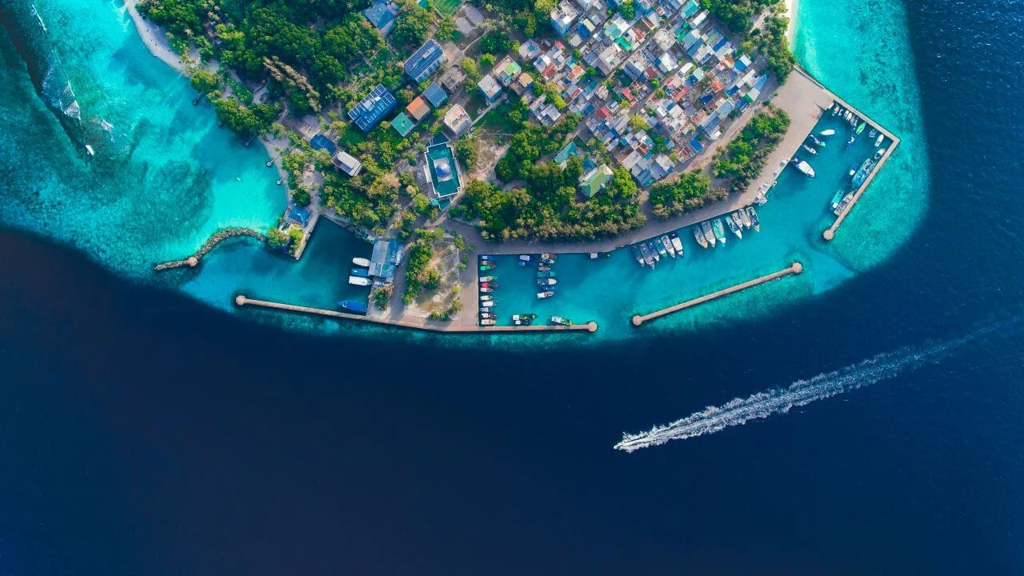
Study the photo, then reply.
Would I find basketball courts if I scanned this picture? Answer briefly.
No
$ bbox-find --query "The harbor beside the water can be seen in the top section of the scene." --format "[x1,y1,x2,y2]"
[366,69,831,331]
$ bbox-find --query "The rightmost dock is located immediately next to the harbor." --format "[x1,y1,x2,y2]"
[822,101,900,240]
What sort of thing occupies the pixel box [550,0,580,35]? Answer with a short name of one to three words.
building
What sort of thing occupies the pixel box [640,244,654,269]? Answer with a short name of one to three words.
boat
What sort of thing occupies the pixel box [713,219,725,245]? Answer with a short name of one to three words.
boat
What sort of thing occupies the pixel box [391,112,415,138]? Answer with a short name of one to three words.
house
